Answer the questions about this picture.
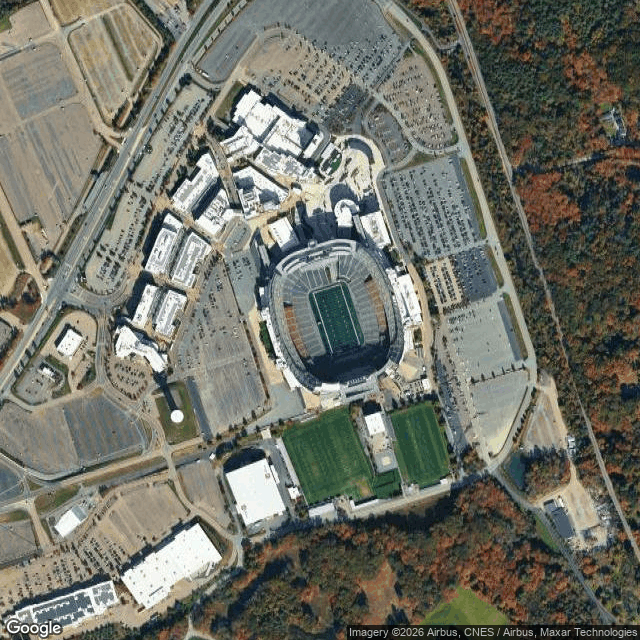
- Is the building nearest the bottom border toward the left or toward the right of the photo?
left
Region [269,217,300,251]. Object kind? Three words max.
building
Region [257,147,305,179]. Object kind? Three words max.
building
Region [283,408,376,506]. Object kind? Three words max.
sports field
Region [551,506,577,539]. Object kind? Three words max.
shed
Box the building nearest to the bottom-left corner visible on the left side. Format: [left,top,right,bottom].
[2,581,119,640]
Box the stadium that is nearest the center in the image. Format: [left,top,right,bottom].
[269,239,406,406]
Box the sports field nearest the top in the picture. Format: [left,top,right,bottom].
[309,280,365,356]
